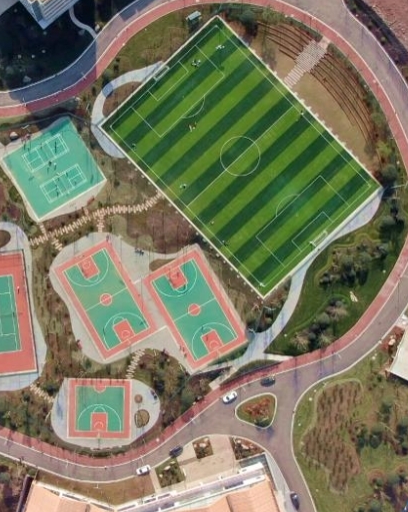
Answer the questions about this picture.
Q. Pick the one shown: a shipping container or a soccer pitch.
soccer pitch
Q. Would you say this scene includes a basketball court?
Yes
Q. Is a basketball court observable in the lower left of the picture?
Yes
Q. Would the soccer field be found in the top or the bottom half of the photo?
top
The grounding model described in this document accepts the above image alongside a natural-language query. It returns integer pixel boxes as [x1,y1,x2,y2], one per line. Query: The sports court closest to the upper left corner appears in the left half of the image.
[2,116,106,221]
